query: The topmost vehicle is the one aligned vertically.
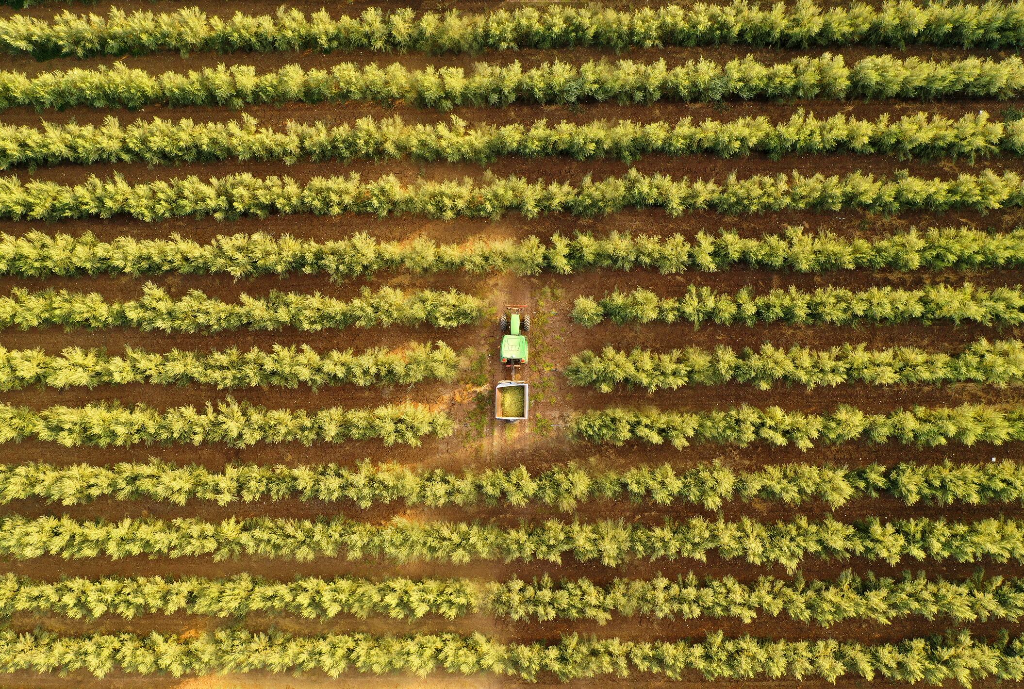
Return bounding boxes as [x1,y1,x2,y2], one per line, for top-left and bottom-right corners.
[500,305,530,372]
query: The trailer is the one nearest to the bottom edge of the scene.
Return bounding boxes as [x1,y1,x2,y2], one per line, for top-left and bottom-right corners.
[496,365,528,421]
